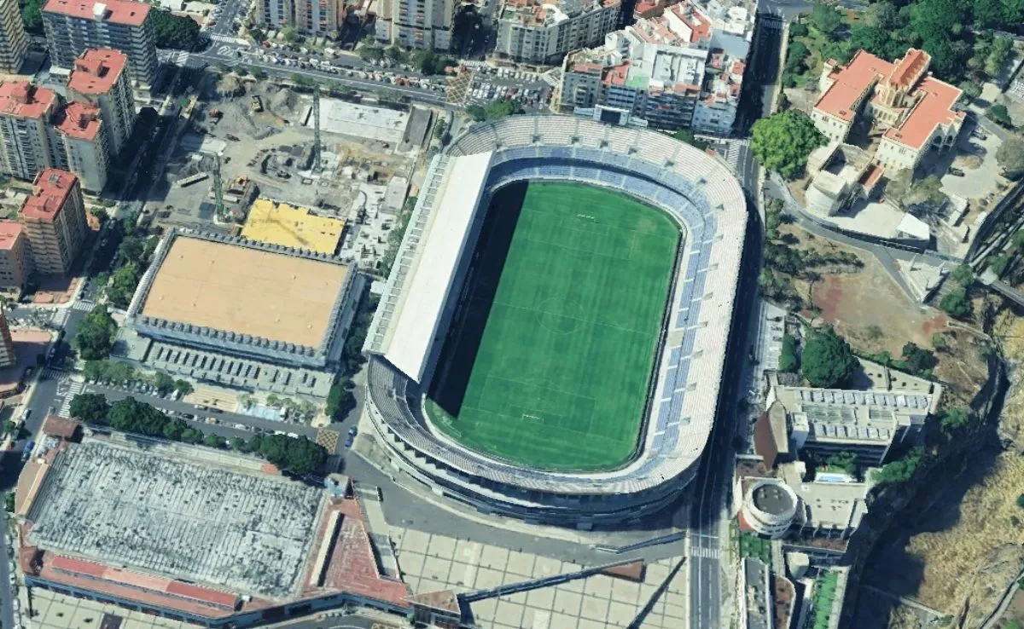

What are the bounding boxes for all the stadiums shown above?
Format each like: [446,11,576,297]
[356,113,747,528]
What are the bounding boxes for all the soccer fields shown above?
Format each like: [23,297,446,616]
[423,180,681,471]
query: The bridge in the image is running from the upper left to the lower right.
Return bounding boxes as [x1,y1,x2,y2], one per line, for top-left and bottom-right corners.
[968,264,1024,323]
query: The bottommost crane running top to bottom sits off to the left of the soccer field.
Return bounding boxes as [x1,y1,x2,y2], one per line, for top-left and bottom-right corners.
[207,147,227,223]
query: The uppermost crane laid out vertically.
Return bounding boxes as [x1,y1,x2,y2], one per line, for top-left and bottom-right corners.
[305,70,324,174]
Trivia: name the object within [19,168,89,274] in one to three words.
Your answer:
building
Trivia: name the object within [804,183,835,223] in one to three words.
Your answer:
house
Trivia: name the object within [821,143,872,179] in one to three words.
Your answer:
building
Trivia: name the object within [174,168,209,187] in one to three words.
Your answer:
shed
